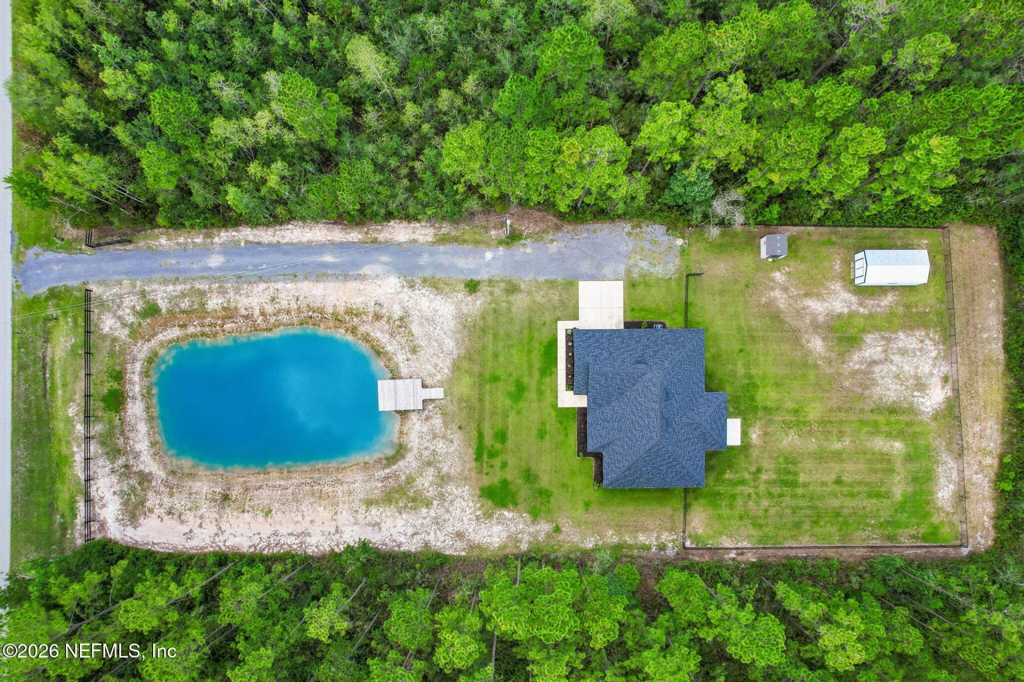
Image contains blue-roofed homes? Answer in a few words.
Yes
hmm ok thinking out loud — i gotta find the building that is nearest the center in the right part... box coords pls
[573,328,727,488]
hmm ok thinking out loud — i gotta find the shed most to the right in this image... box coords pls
[854,250,931,286]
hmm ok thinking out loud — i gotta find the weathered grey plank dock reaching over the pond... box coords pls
[377,379,443,411]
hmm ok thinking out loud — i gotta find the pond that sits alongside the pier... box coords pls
[159,329,396,468]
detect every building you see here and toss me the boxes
[854,250,931,286]
[761,234,788,259]
[573,328,727,488]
